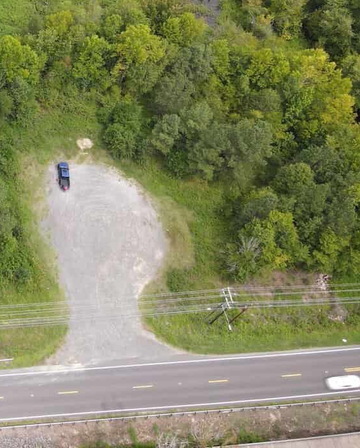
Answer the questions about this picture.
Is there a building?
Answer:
No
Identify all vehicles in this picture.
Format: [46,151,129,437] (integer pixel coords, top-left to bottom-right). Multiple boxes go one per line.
[57,165,72,192]
[326,374,359,390]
